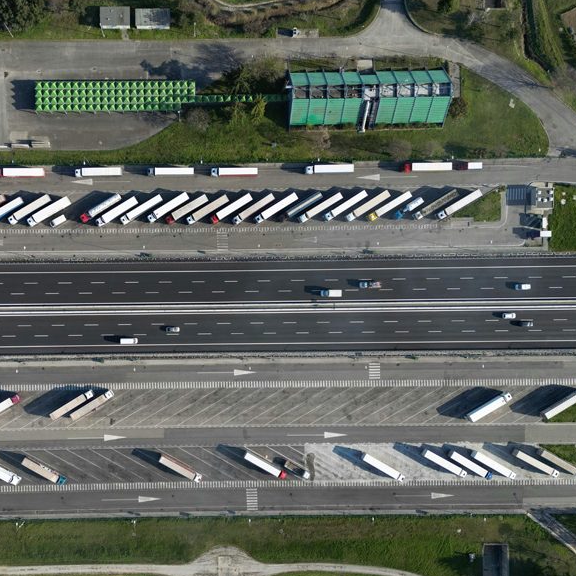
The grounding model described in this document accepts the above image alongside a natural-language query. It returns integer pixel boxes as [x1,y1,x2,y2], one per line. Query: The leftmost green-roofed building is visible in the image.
[285,69,447,131]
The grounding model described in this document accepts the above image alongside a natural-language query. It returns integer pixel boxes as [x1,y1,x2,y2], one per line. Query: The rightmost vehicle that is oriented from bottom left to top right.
[540,390,576,420]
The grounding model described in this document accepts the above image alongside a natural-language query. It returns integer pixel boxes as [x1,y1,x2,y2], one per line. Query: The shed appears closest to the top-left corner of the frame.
[100,7,130,33]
